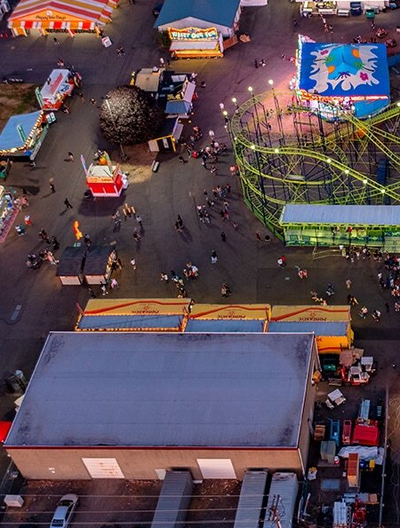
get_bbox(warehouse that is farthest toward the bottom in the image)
[2,331,320,475]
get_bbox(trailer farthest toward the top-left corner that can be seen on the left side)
[28,64,79,105]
